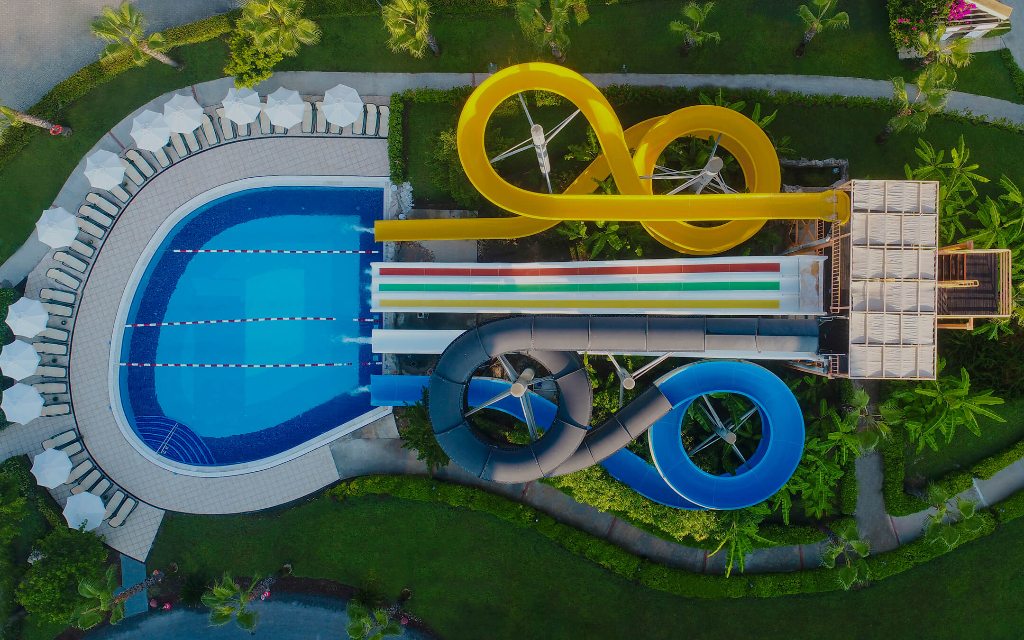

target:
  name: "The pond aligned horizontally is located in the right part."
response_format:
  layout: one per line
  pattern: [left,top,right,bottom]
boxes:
[777,158,848,192]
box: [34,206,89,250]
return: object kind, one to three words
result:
umbrella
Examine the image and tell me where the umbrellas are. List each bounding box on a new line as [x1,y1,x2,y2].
[2,384,57,425]
[263,86,306,128]
[221,85,261,125]
[130,111,171,151]
[62,489,112,529]
[7,296,61,336]
[162,91,203,134]
[321,85,362,126]
[31,447,85,490]
[34,206,89,250]
[0,338,55,381]
[83,148,132,191]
